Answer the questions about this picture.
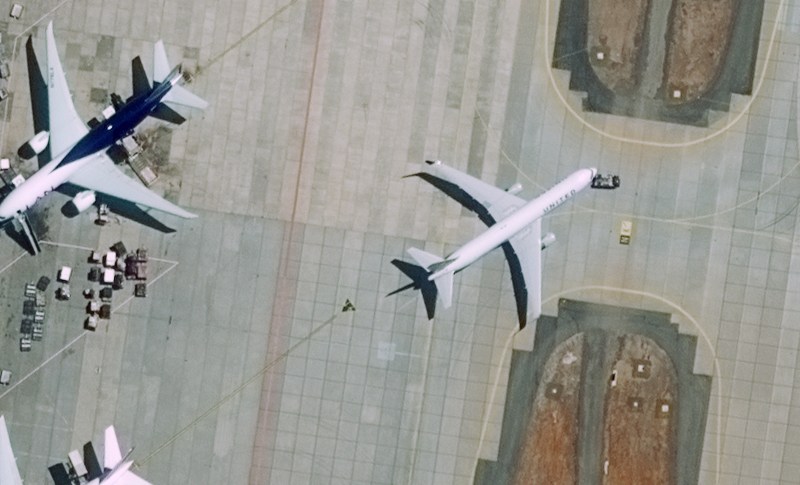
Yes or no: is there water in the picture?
No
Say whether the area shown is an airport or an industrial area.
airport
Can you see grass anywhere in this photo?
No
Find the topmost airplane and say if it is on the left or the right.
left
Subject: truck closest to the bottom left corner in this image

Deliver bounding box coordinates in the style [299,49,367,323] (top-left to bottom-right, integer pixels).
[69,451,90,485]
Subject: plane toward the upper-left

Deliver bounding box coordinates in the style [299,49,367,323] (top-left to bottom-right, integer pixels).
[0,20,212,219]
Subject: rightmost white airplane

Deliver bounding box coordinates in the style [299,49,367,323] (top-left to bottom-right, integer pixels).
[407,162,598,324]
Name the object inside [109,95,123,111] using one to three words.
work vehicle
